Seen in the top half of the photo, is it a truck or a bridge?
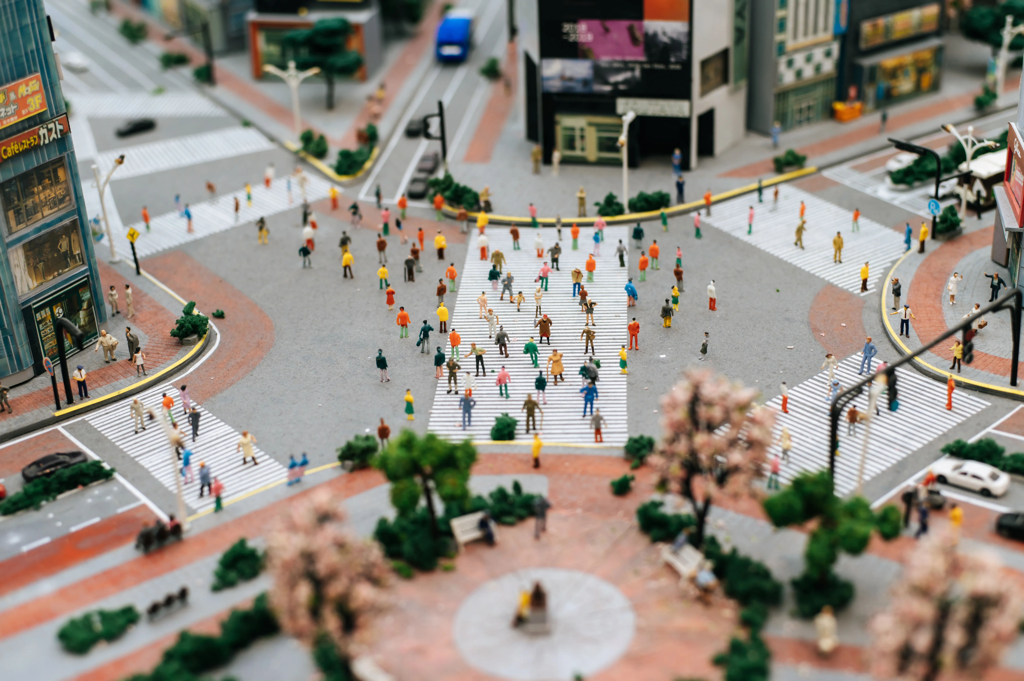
truck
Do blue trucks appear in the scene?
Yes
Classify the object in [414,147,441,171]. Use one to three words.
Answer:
car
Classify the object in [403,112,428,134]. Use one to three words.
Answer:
car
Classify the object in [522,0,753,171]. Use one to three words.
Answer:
building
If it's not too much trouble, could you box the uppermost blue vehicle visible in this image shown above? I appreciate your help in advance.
[437,11,472,58]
